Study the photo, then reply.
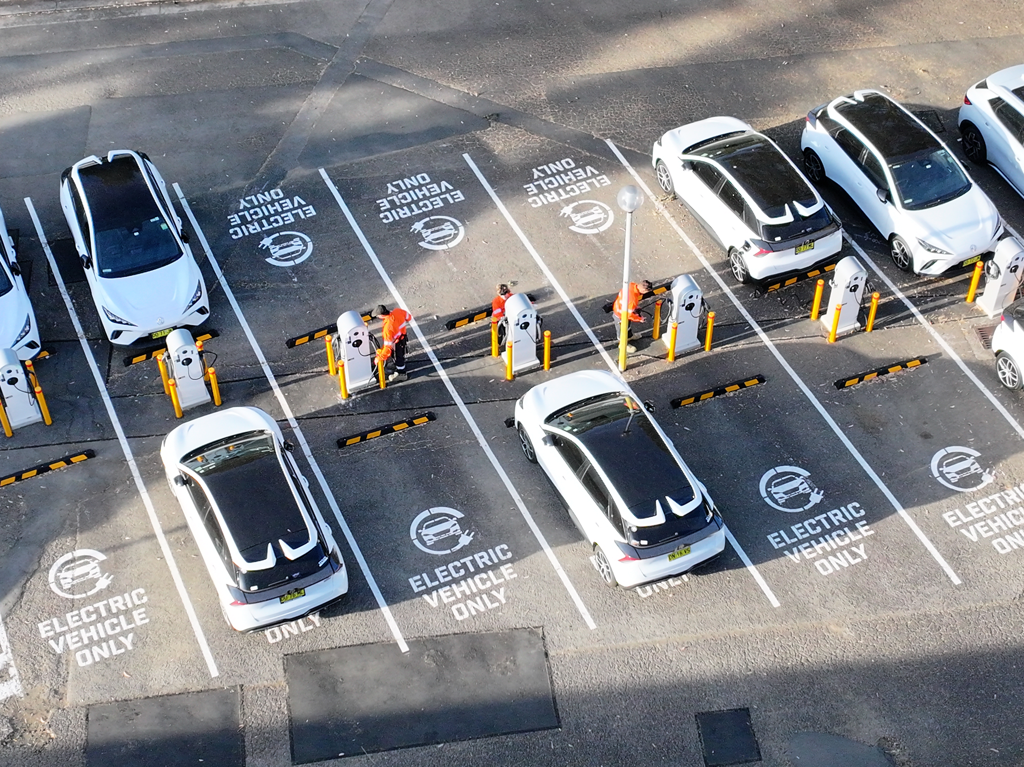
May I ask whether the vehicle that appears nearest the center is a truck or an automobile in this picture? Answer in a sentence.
From above, the vehicle that appears nearest the center can be identified as an automobile.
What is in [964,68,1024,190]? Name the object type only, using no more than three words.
car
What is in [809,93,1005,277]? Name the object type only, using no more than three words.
car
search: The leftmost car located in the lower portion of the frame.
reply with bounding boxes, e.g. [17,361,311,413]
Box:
[164,406,349,636]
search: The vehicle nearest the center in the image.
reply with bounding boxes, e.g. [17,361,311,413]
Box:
[518,369,724,592]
